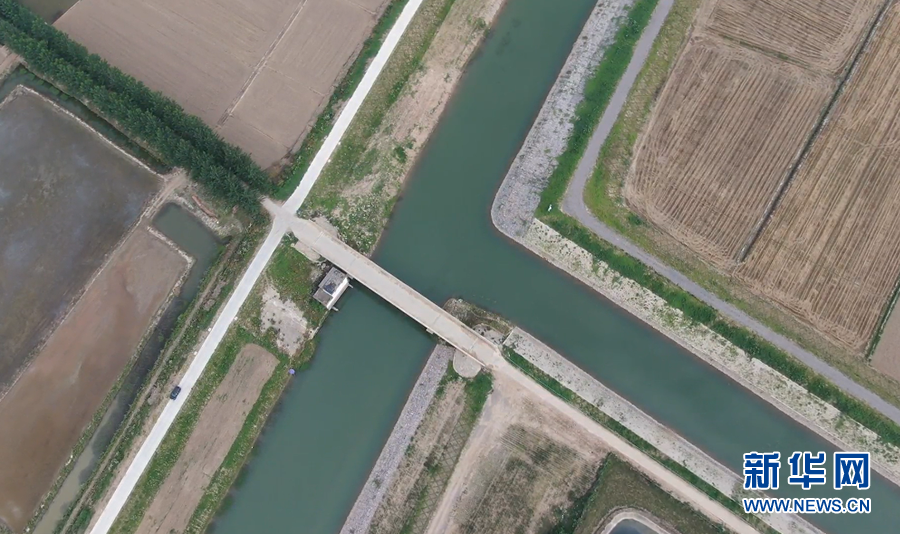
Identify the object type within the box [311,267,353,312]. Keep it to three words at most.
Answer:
building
